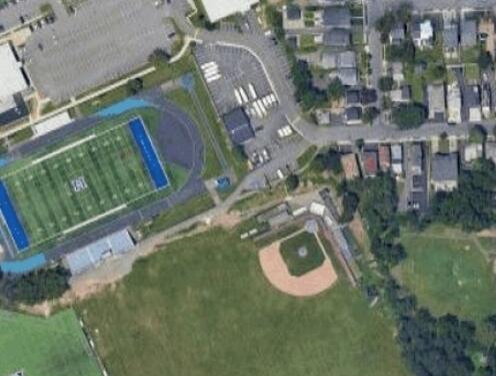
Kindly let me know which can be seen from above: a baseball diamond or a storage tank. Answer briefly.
baseball diamond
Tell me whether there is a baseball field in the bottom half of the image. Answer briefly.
Yes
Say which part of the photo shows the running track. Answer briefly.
left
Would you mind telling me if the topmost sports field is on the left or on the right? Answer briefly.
left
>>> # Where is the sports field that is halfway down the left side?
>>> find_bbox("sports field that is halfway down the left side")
[0,117,171,254]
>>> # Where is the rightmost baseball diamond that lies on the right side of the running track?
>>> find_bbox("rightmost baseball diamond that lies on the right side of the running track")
[259,219,337,296]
